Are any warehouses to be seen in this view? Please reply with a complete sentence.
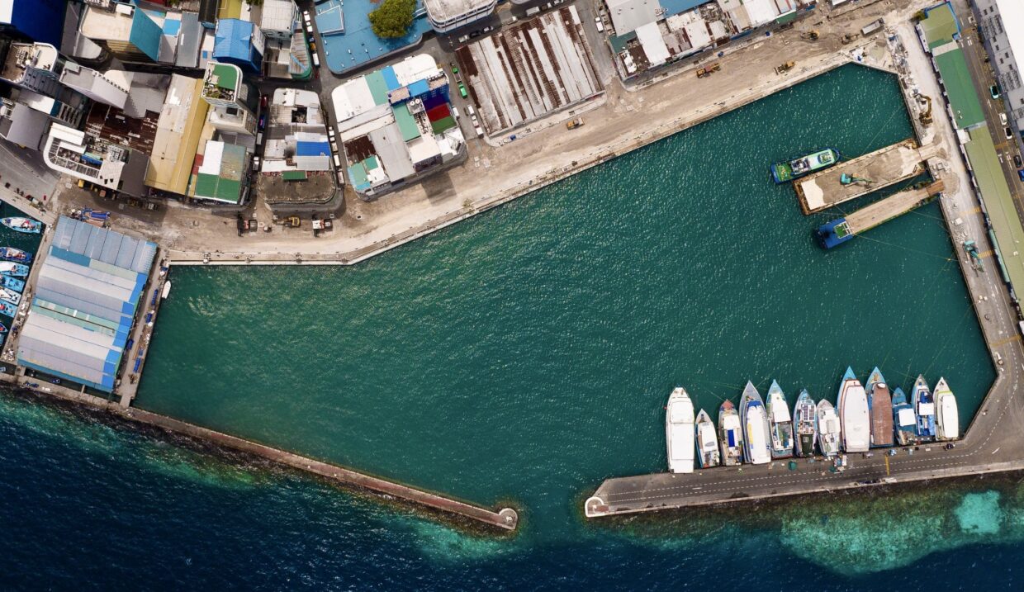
Yes, the photo shows a warehouse.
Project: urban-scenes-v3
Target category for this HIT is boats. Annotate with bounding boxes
[0,216,45,235]
[769,148,842,184]
[664,383,695,474]
[765,379,793,460]
[163,281,172,299]
[910,374,939,440]
[867,367,897,448]
[0,247,35,264]
[0,335,7,345]
[0,321,10,331]
[815,400,840,457]
[0,298,17,316]
[0,262,31,278]
[716,400,742,467]
[0,286,21,304]
[0,274,25,291]
[893,387,916,446]
[736,380,771,465]
[693,410,717,469]
[792,389,817,457]
[835,367,876,454]
[931,377,961,441]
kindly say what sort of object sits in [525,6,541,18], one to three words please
vehicle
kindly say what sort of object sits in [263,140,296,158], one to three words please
building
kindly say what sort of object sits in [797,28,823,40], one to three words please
vehicle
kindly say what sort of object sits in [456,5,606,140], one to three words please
warehouse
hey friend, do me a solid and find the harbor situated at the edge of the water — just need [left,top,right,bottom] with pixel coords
[128,50,1001,440]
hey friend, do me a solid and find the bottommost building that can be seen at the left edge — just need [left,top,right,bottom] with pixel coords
[15,216,160,396]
